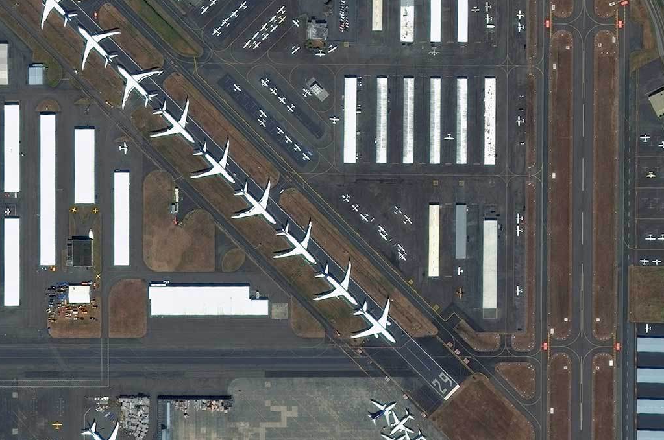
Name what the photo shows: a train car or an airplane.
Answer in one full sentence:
Visible in the photo is an airplane.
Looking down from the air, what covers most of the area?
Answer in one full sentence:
For the most part, this view shows paved ground.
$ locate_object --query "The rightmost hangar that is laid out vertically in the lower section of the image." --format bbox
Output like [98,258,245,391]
[483,220,497,308]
